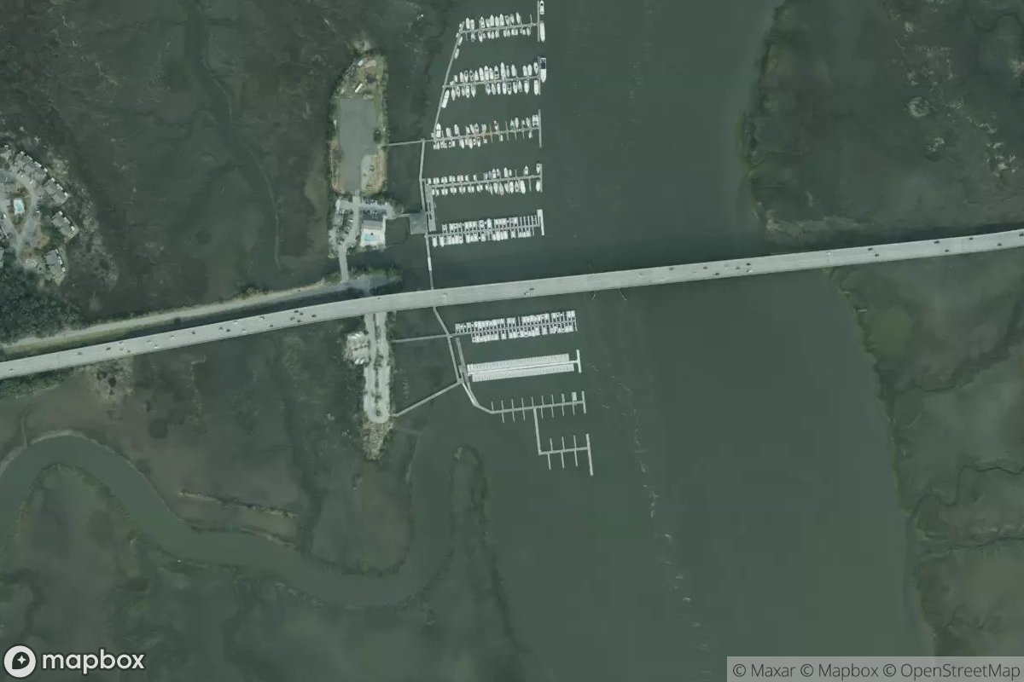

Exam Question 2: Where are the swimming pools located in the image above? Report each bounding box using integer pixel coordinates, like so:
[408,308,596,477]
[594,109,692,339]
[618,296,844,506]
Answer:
[361,229,383,246]
[14,199,25,215]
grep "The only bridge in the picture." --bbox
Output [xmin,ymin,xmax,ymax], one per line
[0,229,1024,379]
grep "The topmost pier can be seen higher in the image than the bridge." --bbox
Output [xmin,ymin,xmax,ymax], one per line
[461,0,540,41]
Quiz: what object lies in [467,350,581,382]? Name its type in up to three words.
pier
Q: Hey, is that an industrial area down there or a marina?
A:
marina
